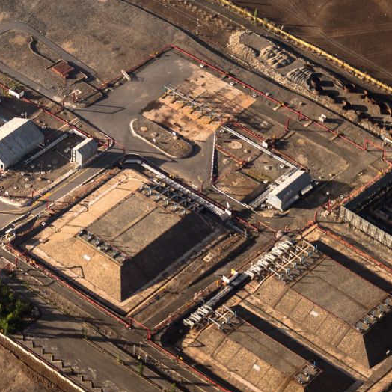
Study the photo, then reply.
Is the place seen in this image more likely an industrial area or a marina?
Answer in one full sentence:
This looks like an industrial area.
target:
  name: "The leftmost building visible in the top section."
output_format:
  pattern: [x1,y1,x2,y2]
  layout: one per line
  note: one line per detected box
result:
[0,118,46,171]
